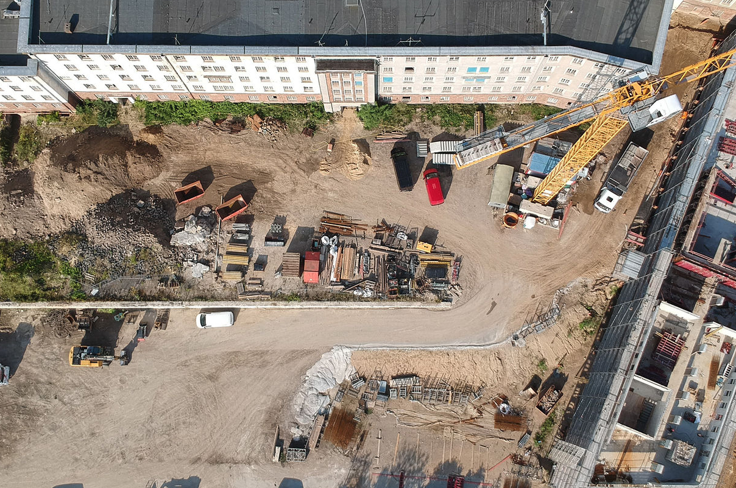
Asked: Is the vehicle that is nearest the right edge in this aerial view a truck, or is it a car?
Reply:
truck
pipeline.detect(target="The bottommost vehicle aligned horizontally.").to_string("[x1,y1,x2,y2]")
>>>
[67,345,134,366]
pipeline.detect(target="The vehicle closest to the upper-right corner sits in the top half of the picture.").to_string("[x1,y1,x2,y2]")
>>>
[597,142,646,213]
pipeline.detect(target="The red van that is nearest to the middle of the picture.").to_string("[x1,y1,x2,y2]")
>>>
[420,170,449,209]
